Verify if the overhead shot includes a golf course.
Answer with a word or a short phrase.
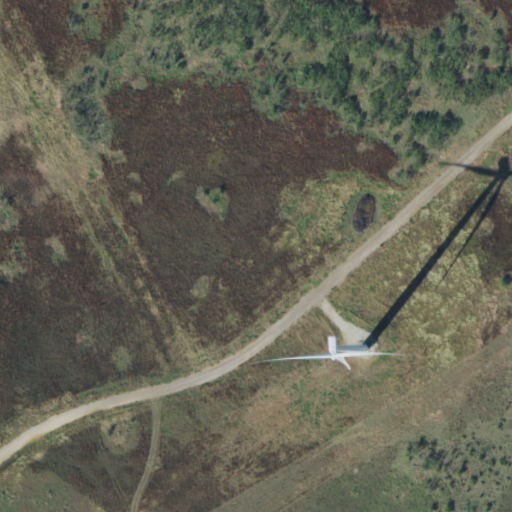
No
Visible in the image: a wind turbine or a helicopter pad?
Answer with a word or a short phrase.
wind turbine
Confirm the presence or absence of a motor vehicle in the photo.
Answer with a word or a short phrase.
No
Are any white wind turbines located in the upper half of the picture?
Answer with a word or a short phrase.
No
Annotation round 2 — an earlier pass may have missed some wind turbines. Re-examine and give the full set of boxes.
[254,335,402,368]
